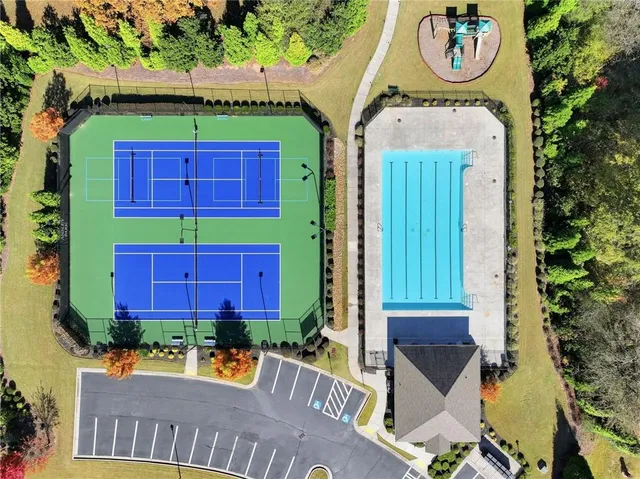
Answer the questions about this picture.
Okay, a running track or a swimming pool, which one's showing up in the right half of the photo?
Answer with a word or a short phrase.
swimming pool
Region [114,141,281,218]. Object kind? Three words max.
tennis court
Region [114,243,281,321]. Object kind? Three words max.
tennis court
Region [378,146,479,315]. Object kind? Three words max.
swimming pool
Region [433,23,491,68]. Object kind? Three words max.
playground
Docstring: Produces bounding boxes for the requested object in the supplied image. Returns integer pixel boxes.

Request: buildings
[393,344,481,456]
